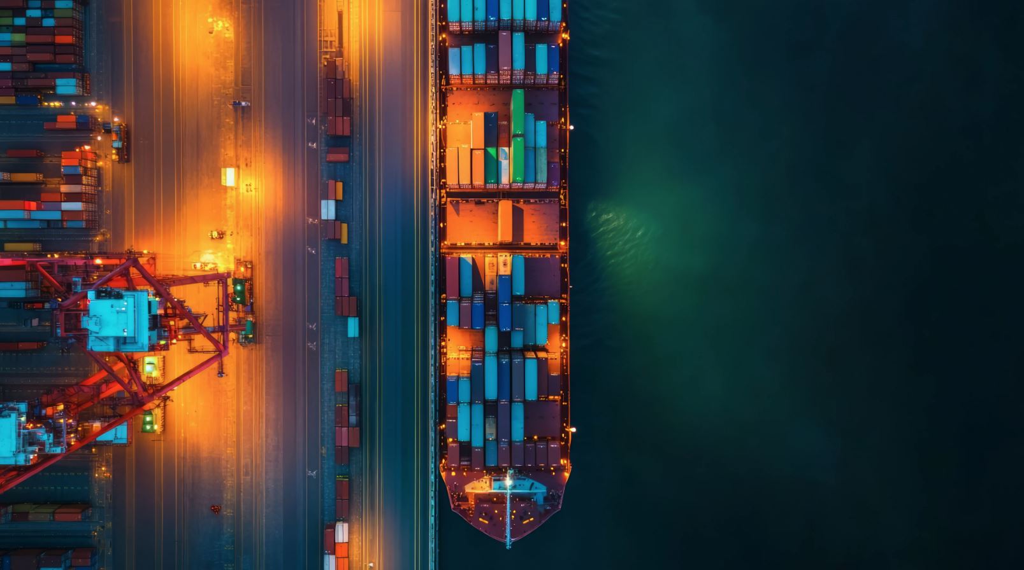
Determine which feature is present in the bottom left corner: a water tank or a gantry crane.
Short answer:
gantry crane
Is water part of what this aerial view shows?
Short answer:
Yes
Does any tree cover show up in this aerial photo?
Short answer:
No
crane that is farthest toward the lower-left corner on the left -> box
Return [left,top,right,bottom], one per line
[0,352,162,496]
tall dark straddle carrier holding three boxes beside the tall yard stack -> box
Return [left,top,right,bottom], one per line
[112,121,138,165]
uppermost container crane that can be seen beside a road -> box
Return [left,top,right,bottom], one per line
[0,250,254,410]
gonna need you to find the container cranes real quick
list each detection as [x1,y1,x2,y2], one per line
[0,352,162,496]
[0,250,254,410]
